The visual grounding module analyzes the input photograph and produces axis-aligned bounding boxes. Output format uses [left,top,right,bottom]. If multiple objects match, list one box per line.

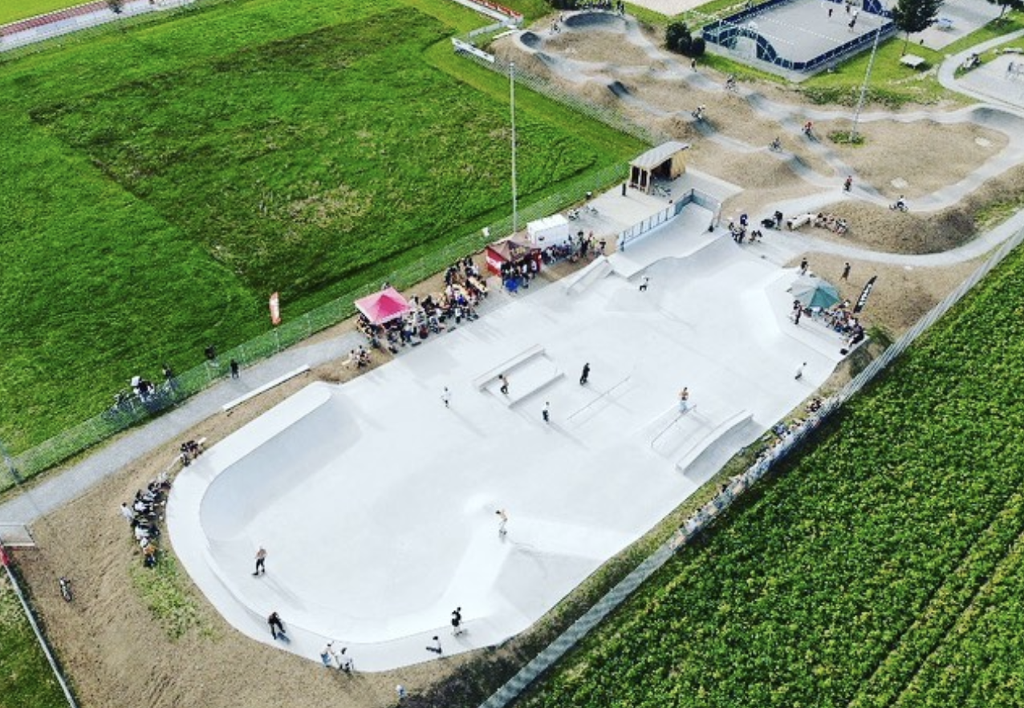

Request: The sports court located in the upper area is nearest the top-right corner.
[704,0,895,70]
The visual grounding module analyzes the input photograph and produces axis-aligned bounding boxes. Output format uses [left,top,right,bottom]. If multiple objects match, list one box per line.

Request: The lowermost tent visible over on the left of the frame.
[347,276,415,322]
